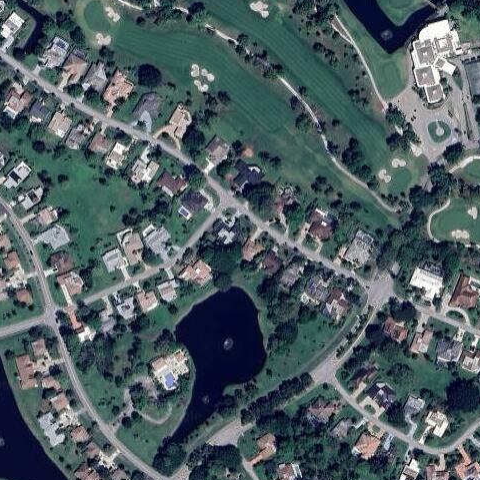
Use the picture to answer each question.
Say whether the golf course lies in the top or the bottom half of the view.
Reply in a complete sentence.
The top half of the photo is where the golf course is.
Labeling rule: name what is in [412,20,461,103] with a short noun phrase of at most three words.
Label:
building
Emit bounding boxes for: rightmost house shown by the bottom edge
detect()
[455,459,480,480]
